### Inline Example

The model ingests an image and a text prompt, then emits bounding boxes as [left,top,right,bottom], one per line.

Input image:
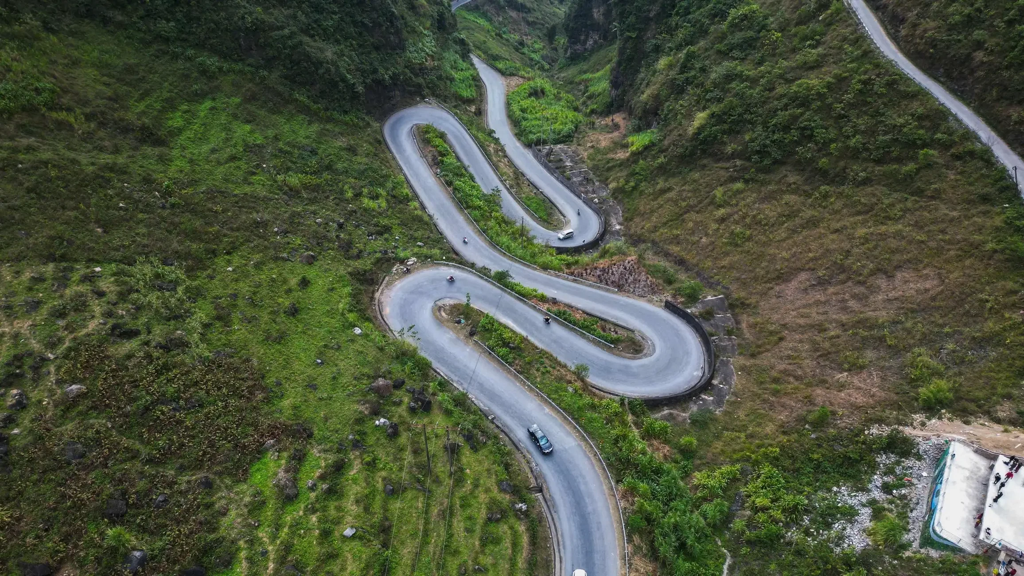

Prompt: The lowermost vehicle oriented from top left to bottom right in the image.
[527,424,554,454]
